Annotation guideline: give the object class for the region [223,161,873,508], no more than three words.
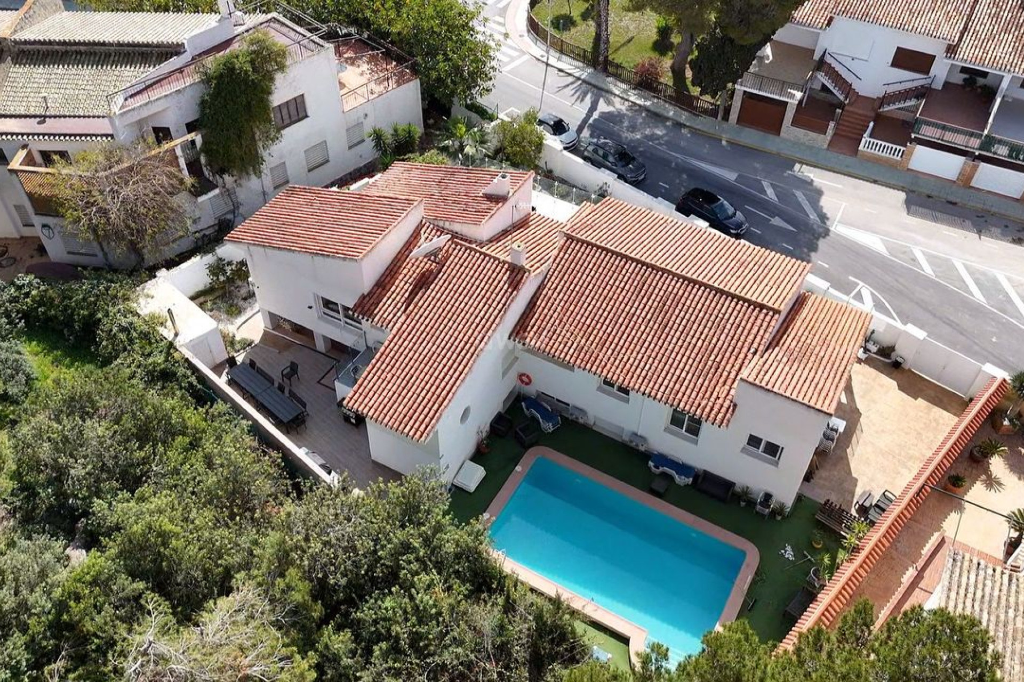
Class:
house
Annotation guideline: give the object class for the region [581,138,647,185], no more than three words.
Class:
car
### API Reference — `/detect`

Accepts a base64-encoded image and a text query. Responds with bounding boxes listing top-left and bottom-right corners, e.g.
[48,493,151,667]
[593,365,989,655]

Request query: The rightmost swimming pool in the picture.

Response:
[474,447,759,682]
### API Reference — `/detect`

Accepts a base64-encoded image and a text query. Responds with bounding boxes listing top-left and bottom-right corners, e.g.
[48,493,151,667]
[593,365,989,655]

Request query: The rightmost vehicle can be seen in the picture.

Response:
[675,185,749,236]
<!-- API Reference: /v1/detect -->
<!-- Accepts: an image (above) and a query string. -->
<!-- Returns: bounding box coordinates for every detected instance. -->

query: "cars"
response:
[528,113,586,154]
[675,185,749,236]
[581,138,647,185]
